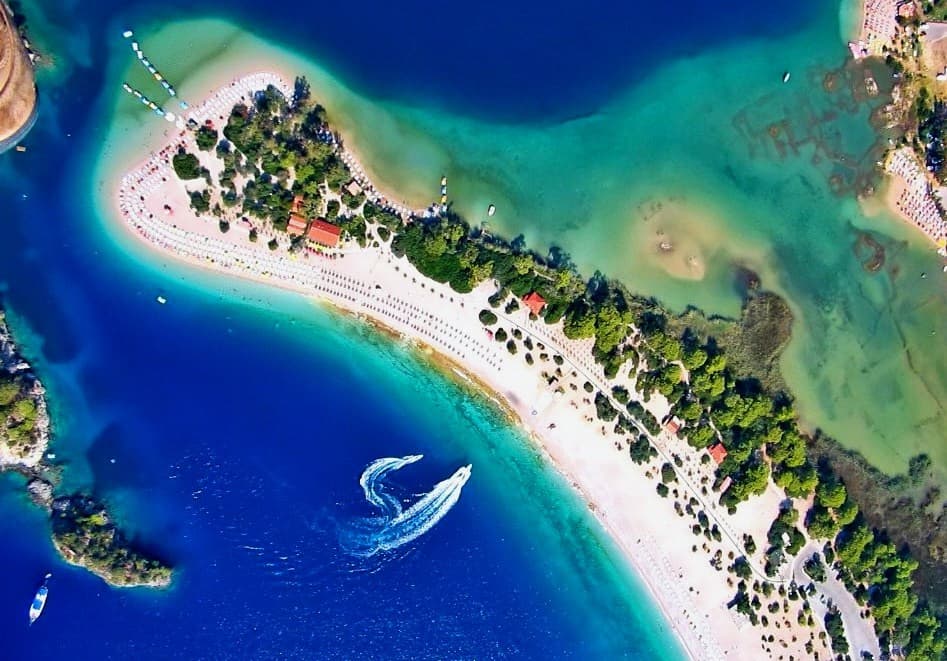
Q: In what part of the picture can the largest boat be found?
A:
bottom left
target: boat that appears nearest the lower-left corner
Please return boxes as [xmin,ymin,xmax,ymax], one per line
[26,584,49,621]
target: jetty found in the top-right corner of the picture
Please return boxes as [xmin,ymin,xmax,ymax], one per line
[848,42,874,60]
